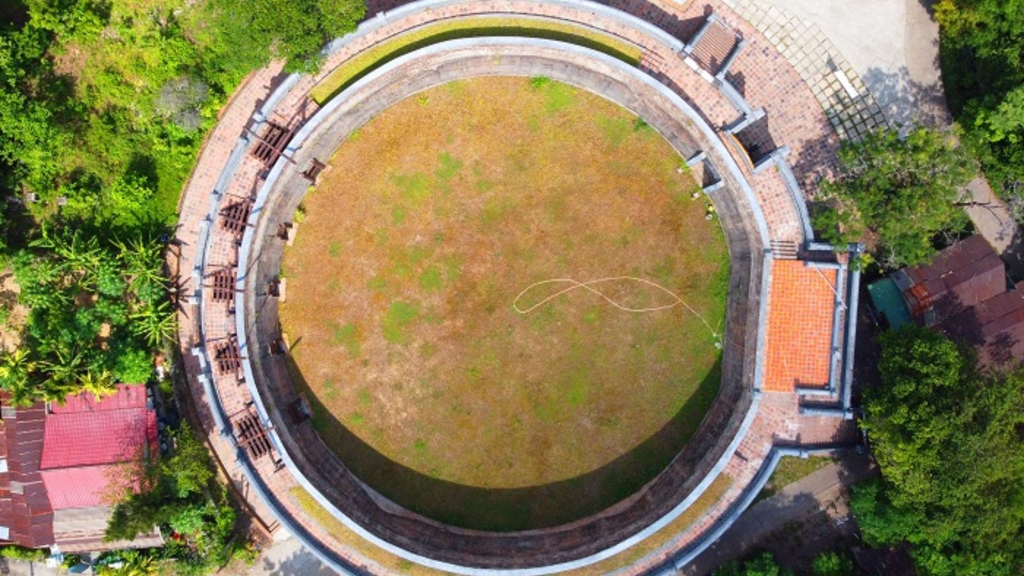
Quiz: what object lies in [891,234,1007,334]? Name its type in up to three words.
shed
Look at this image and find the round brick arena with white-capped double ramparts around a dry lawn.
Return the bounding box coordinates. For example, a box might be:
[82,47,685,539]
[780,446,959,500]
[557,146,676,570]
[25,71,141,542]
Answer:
[187,0,812,576]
